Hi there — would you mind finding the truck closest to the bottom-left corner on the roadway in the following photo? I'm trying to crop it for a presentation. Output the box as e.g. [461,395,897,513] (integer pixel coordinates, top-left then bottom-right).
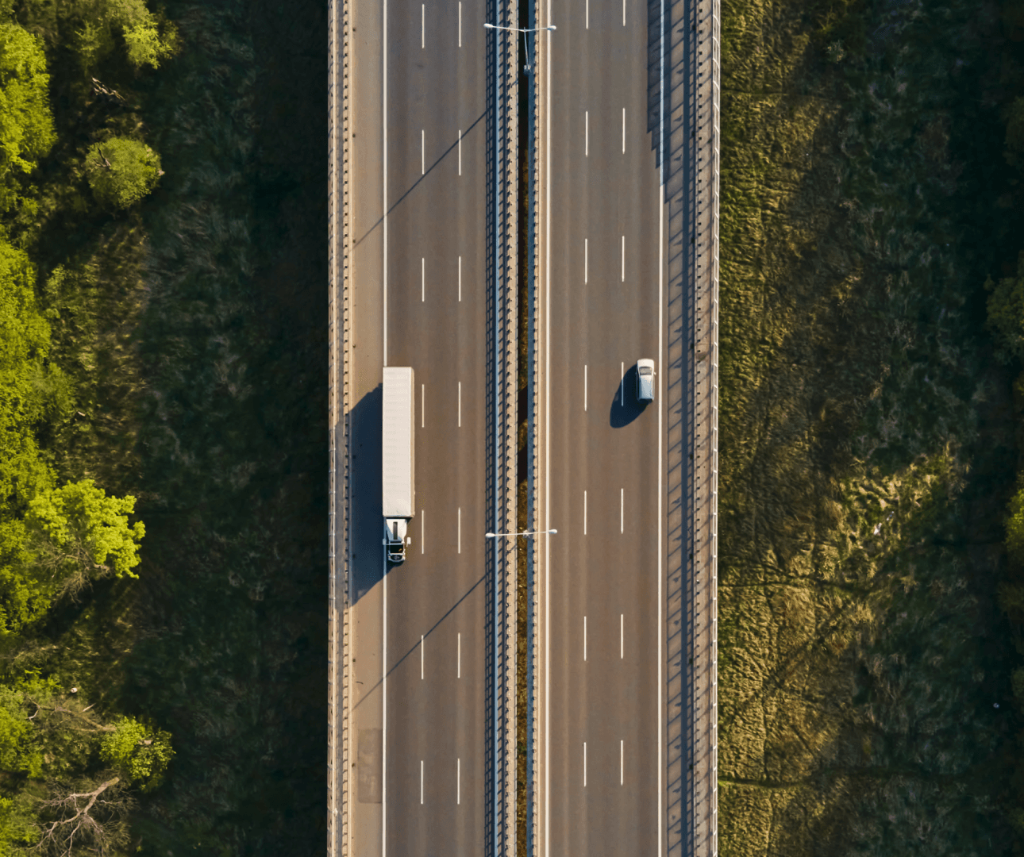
[383,366,415,563]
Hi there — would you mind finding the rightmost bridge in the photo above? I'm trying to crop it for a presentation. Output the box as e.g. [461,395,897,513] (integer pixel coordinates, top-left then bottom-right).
[526,0,721,857]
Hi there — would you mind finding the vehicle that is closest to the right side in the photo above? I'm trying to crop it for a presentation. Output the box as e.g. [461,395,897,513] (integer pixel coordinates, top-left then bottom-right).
[635,359,657,402]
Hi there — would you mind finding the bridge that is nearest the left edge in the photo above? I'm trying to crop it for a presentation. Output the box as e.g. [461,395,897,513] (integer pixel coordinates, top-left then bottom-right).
[327,0,520,857]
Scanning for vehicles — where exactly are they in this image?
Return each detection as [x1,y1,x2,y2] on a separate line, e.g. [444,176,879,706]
[383,366,415,563]
[635,359,657,402]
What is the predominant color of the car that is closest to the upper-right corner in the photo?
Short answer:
white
